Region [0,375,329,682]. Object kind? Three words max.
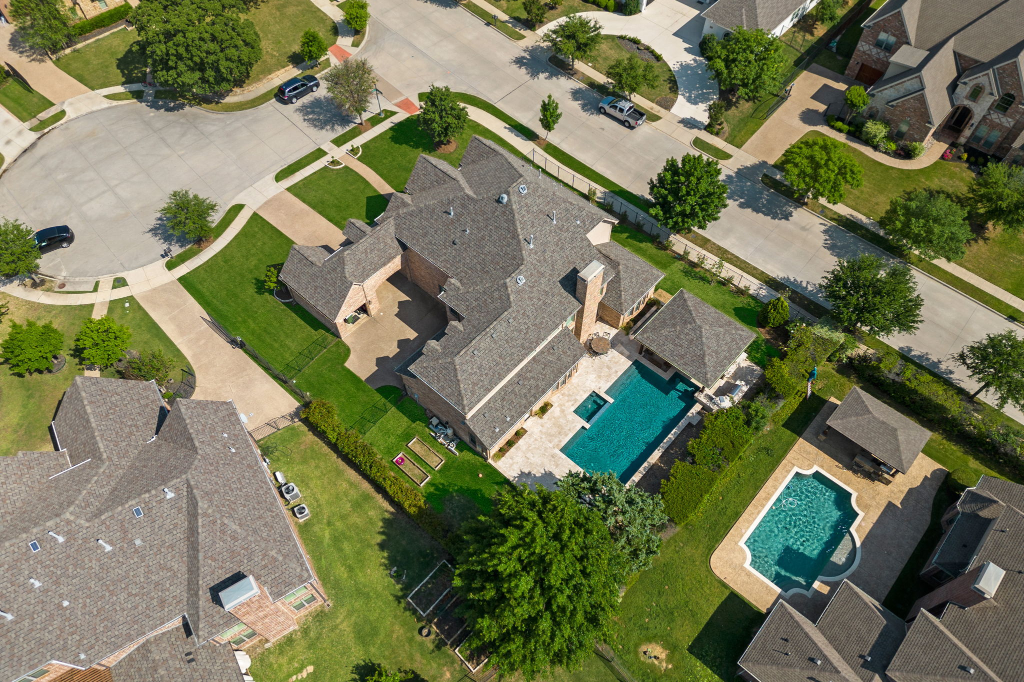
house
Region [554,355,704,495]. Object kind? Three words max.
swimming pool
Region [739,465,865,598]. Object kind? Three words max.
swimming pool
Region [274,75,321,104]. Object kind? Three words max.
car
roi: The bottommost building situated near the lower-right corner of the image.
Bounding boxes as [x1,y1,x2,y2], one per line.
[735,474,1024,682]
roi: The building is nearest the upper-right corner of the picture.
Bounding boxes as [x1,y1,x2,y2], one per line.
[841,0,1024,177]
